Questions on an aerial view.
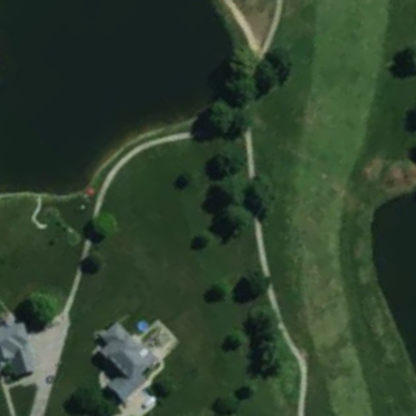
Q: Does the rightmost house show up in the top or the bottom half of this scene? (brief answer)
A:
bottom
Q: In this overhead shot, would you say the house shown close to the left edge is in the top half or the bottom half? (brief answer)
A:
bottom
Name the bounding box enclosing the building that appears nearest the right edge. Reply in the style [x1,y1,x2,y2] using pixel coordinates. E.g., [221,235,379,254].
[100,319,154,402]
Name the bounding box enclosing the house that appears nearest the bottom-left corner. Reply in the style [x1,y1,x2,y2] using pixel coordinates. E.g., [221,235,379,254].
[0,316,37,375]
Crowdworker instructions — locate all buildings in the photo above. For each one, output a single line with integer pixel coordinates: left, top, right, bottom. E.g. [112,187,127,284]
[100,319,154,402]
[0,316,37,375]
